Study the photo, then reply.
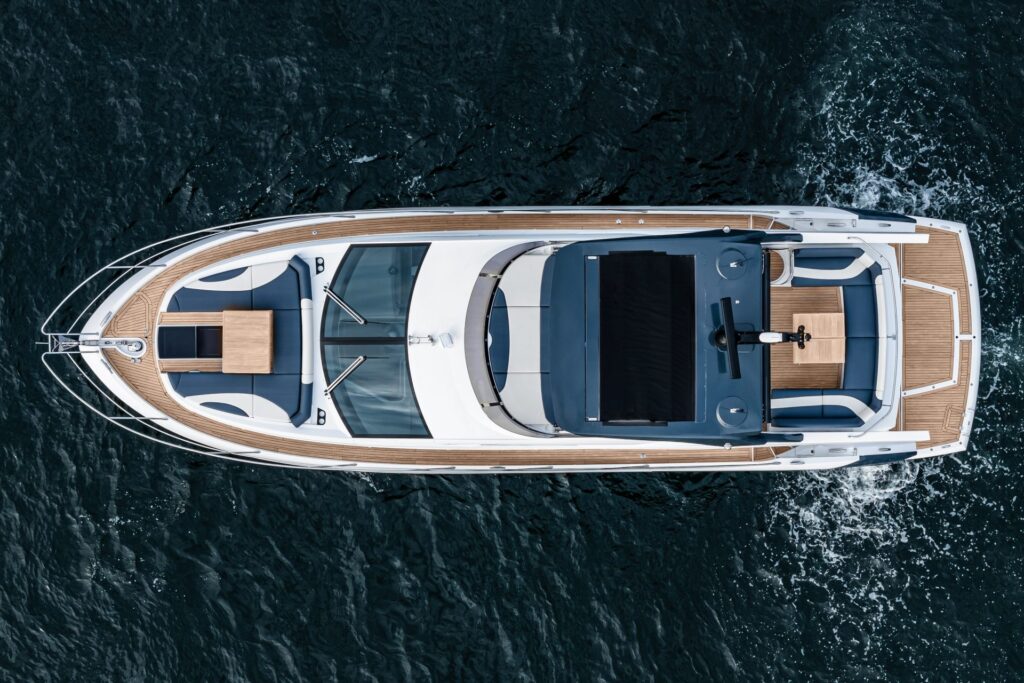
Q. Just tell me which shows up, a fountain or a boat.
boat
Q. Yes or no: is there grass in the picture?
No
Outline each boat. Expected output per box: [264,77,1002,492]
[36,205,980,476]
